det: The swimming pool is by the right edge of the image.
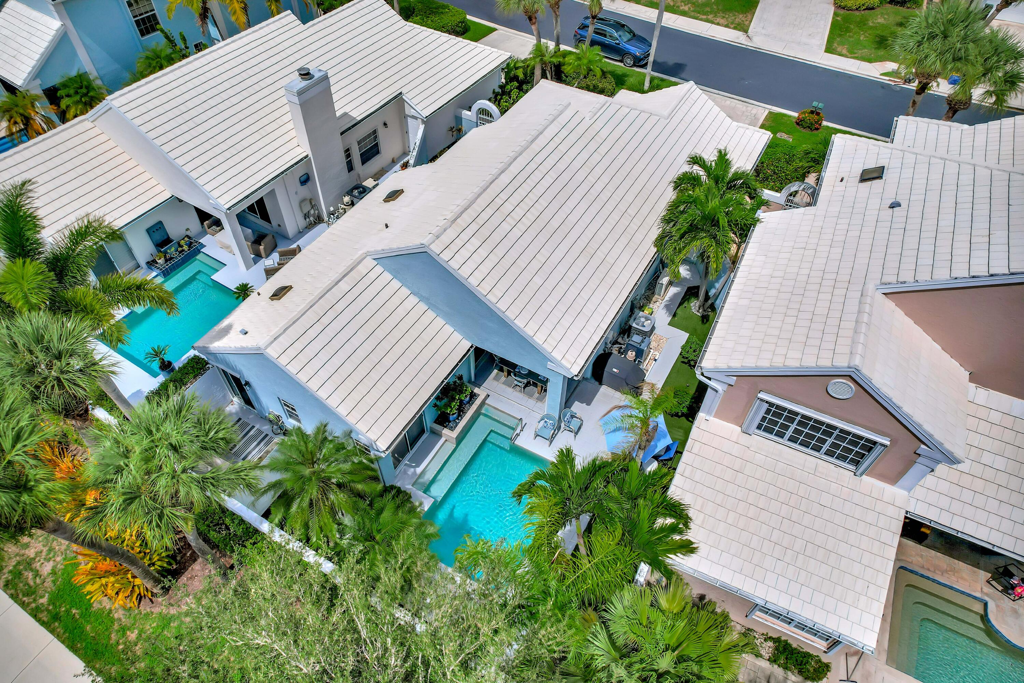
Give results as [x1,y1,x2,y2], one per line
[877,560,1024,683]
